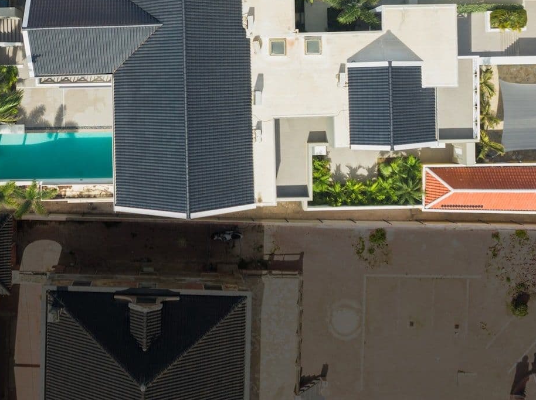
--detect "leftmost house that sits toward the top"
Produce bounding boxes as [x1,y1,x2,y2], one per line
[19,0,255,221]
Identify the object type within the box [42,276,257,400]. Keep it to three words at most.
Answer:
house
